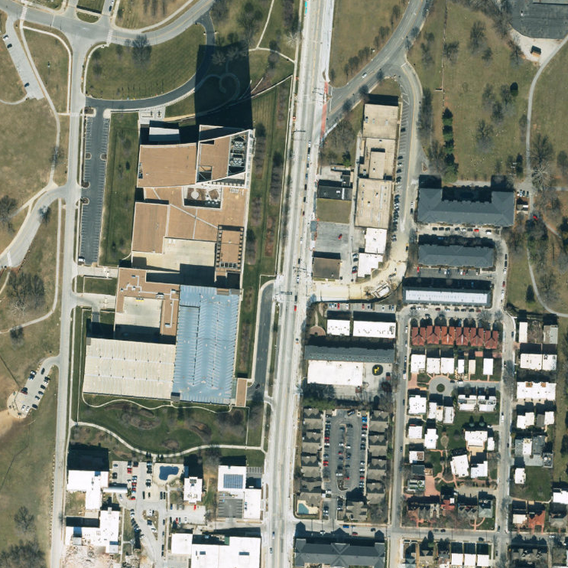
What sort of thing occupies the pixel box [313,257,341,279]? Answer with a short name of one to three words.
building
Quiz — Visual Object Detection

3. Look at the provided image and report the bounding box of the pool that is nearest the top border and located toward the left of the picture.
[159,465,179,480]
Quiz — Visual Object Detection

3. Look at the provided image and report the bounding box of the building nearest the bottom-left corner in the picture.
[66,526,100,545]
